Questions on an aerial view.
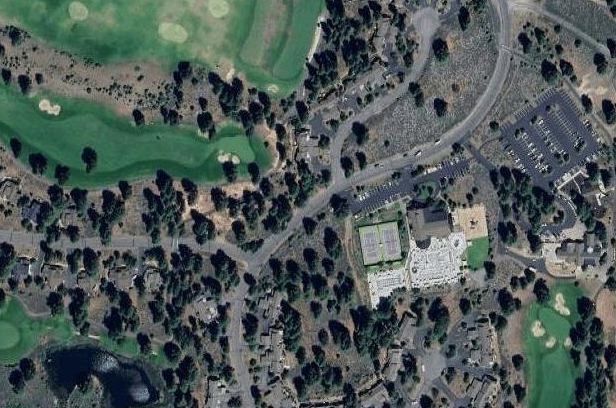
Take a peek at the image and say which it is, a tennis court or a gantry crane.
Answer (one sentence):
Of the two, only a tennis court appears.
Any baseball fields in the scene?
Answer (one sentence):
No, the scene contains no baseball field.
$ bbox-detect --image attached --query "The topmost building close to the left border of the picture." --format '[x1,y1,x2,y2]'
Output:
[0,177,23,202]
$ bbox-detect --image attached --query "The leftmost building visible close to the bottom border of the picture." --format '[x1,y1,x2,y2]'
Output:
[208,376,236,407]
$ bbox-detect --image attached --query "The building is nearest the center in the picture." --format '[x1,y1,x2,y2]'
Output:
[298,125,322,152]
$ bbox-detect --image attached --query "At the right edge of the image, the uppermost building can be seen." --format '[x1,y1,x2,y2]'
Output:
[575,178,603,201]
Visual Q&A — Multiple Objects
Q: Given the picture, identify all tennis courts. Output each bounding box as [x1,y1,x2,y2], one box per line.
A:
[358,224,382,265]
[378,222,402,263]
